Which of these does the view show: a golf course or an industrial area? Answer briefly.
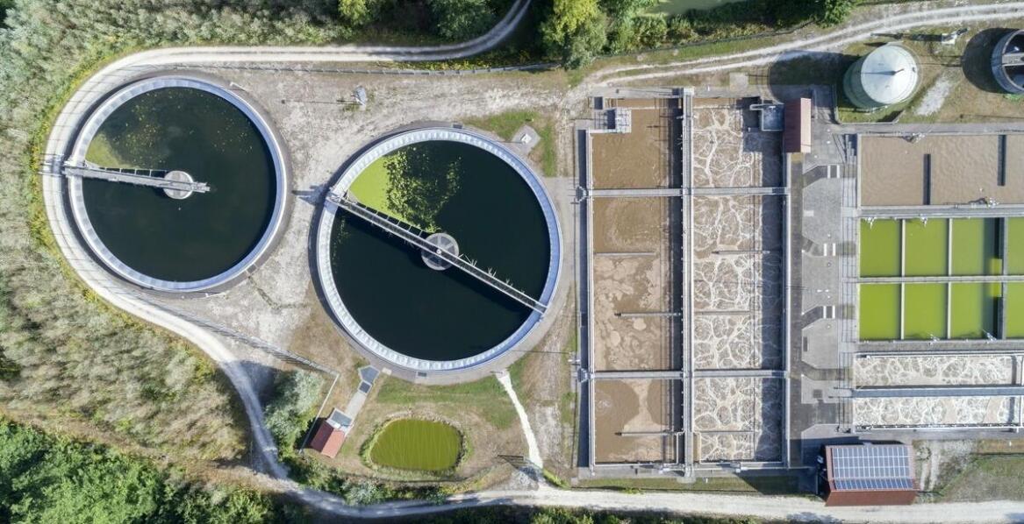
industrial area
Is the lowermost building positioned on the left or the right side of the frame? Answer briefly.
right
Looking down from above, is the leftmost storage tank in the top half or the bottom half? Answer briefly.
top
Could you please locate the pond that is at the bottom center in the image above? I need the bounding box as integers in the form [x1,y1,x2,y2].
[371,419,459,467]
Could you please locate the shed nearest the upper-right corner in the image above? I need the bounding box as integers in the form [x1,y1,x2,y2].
[777,98,812,154]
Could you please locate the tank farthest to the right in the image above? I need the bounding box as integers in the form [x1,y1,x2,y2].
[991,29,1024,95]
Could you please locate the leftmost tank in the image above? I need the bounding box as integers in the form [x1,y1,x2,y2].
[66,75,284,291]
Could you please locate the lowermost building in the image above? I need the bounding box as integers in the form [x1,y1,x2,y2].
[817,440,921,506]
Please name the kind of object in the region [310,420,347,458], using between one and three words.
shed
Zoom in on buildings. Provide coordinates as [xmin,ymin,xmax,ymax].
[817,440,921,506]
[777,98,812,154]
[310,420,347,458]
